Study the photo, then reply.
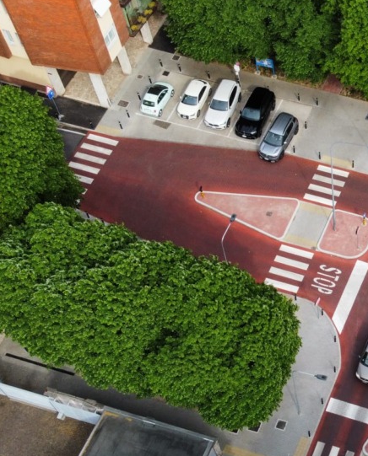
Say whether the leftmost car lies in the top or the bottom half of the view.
top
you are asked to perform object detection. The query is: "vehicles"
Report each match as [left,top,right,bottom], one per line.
[140,80,176,117]
[262,112,296,160]
[206,78,239,127]
[355,335,368,385]
[238,86,274,136]
[177,77,212,121]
